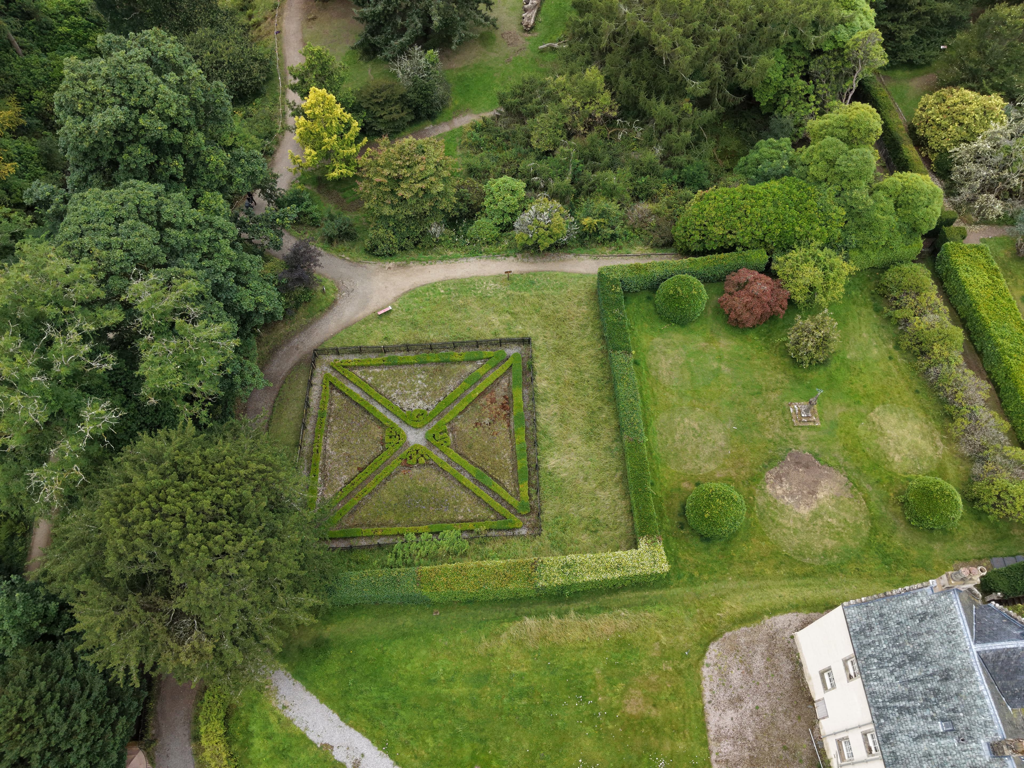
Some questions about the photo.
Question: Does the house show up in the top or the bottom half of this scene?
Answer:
bottom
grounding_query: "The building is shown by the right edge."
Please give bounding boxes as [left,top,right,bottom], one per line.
[792,567,1024,768]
